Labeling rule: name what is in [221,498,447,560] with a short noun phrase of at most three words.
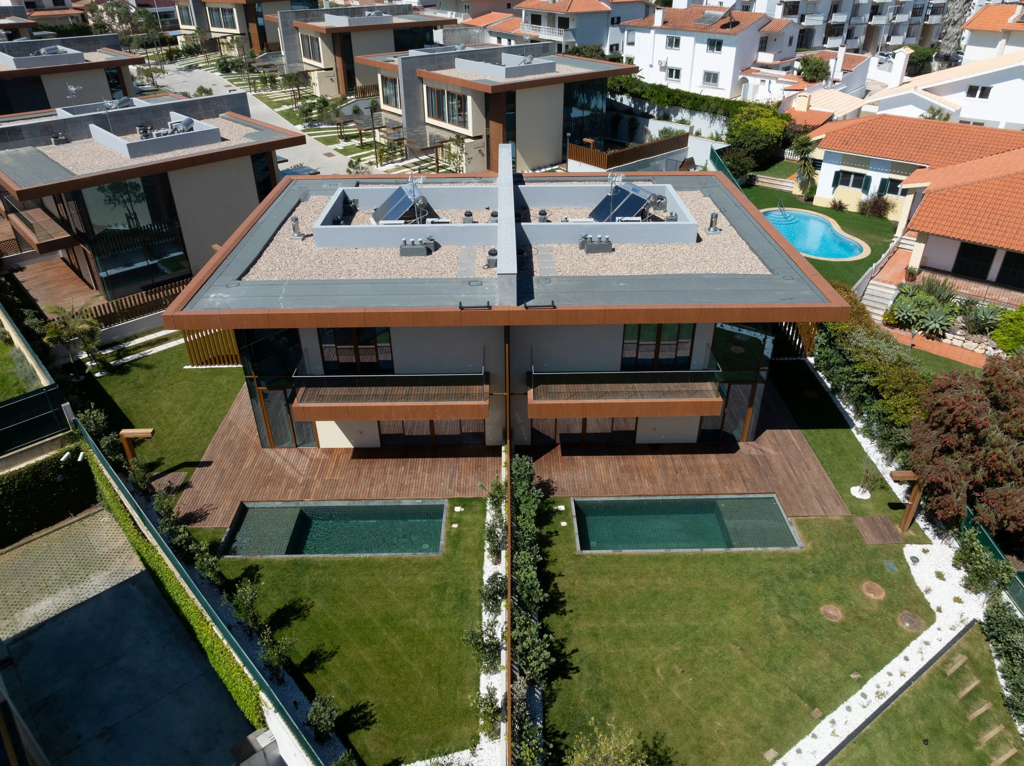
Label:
swimming pool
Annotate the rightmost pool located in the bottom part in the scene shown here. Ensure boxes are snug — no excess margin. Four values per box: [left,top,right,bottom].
[572,493,804,554]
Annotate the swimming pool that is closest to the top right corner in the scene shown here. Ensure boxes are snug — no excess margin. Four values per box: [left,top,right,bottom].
[761,198,870,260]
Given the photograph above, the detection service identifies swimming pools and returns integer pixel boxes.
[761,198,870,260]
[572,493,804,554]
[221,498,447,560]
